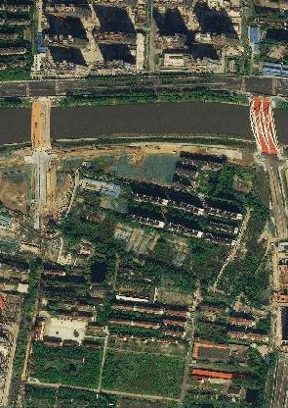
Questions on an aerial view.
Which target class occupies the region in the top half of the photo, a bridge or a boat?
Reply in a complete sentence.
You can see a bridge in the top half of the photo.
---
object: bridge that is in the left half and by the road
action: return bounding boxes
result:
[31,96,51,152]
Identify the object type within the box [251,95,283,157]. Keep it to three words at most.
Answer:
bridge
